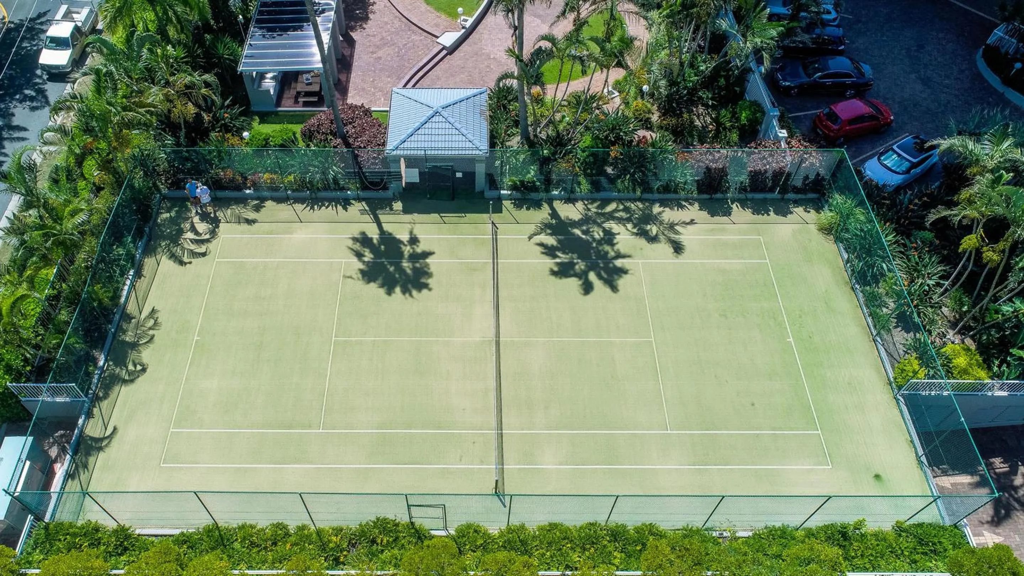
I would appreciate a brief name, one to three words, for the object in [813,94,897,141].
car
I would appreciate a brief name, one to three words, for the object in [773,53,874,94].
car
